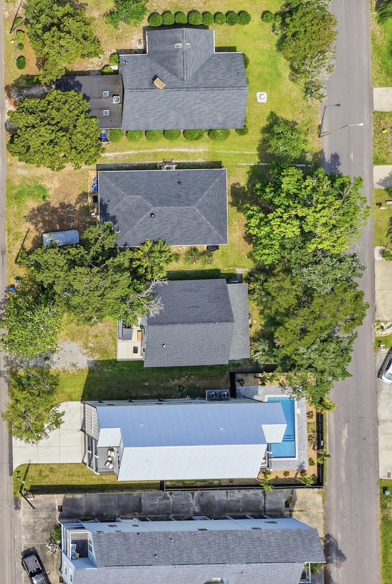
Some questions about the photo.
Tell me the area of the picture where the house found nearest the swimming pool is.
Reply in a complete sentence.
The house found nearest the swimming pool is located in the bottom region of the scene.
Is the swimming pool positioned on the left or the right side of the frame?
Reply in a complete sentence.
It is on the right.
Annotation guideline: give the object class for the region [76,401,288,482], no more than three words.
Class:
house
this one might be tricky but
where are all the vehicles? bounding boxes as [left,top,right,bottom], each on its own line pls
[21,549,49,584]
[377,349,392,384]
